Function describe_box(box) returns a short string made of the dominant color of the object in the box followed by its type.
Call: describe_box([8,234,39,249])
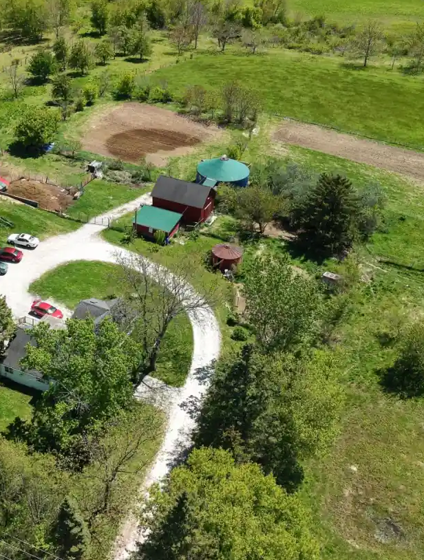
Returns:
white car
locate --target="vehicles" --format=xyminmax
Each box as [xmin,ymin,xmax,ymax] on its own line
[27,299,60,316]
[0,262,10,275]
[0,248,24,263]
[8,234,39,249]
